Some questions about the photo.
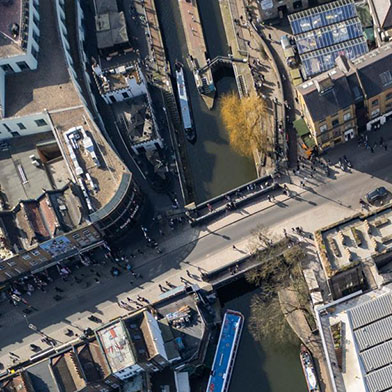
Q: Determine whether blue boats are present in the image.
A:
Yes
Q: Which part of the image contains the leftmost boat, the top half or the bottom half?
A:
top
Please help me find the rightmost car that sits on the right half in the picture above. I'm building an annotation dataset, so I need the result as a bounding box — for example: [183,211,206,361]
[365,184,390,201]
